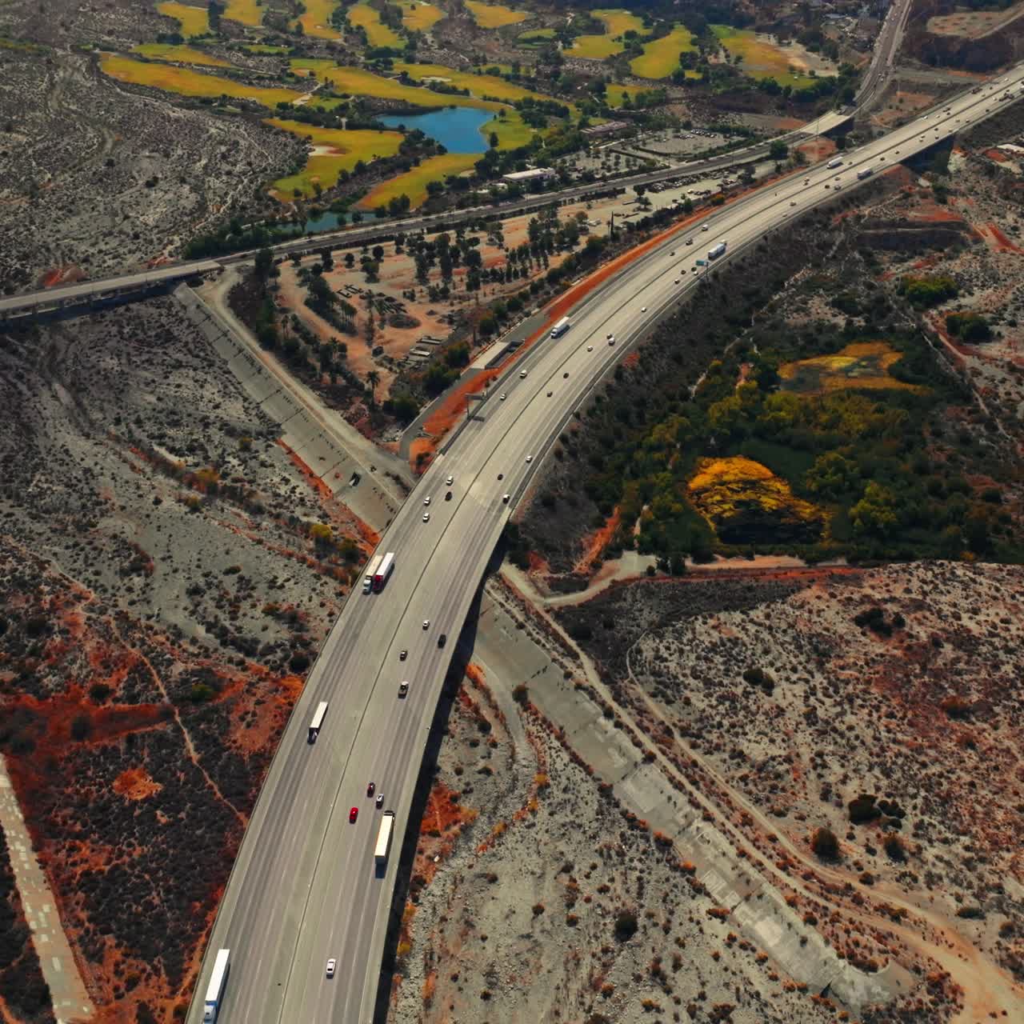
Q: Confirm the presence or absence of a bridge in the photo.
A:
Yes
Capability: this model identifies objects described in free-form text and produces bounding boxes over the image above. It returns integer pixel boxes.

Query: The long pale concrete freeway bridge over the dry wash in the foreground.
[184,502,508,1024]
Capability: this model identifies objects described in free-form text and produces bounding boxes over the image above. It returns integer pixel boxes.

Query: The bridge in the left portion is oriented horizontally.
[0,257,219,326]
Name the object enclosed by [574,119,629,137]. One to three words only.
building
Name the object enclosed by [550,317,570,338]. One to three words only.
vehicle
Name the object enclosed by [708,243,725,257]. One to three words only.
vehicle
